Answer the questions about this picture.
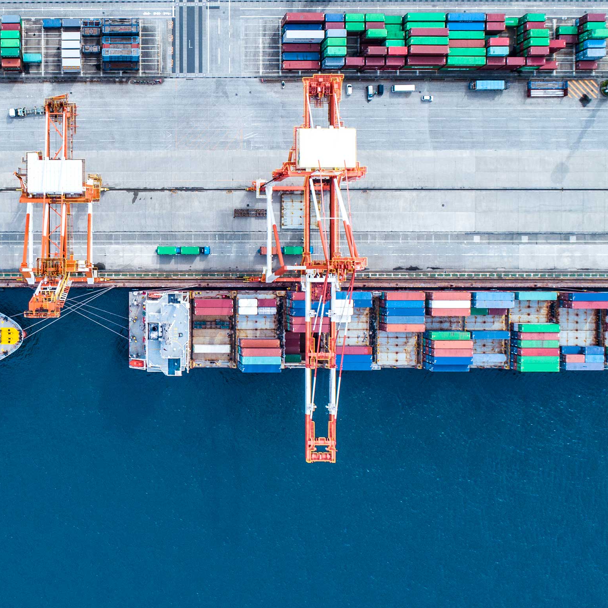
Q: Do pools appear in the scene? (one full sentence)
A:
No, this view has no pool in it.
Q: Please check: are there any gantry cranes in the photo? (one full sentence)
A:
Yes, a gantry crane appears in the view.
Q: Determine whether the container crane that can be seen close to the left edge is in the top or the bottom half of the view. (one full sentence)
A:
Seen from above, the container crane that can be seen close to the left edge lies in the top half of the view.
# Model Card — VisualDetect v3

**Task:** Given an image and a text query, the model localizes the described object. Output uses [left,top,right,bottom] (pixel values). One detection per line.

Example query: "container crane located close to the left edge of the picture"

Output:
[16,91,108,316]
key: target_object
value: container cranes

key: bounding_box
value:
[244,74,368,464]
[16,91,108,316]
